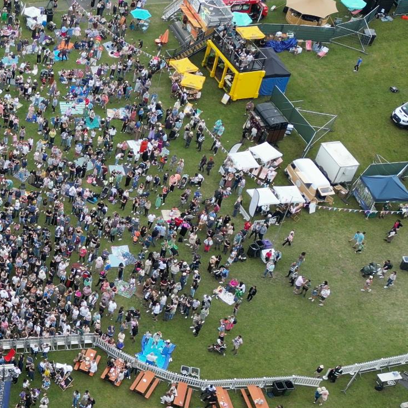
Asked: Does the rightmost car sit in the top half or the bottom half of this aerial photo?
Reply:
top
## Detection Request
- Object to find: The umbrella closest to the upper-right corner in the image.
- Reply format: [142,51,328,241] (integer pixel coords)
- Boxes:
[339,0,367,19]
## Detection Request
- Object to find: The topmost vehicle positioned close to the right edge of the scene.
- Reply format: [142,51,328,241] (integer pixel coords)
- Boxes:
[385,93,408,127]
